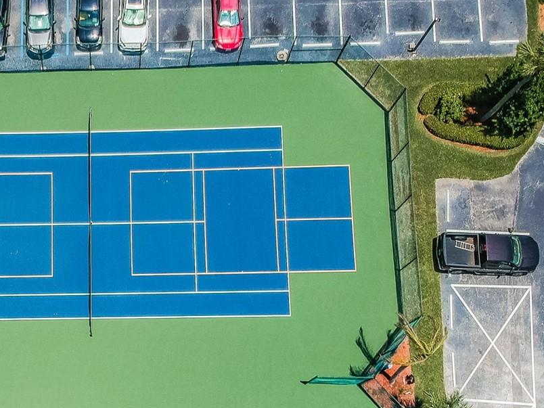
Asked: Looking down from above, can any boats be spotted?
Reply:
No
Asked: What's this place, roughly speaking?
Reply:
sports ground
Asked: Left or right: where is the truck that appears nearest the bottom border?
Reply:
right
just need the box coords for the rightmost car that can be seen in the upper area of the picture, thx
[210,0,248,53]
